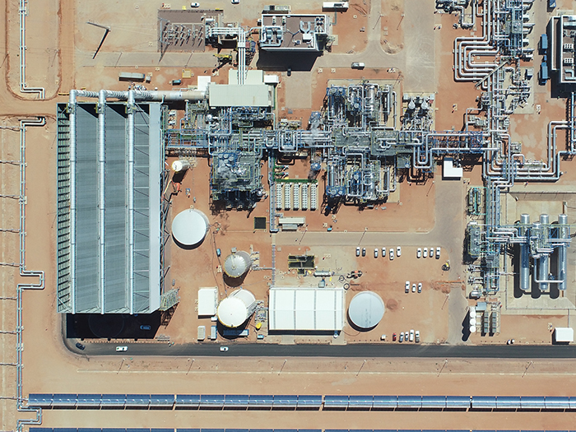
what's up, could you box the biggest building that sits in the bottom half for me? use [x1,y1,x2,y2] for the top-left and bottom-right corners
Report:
[269,287,343,331]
